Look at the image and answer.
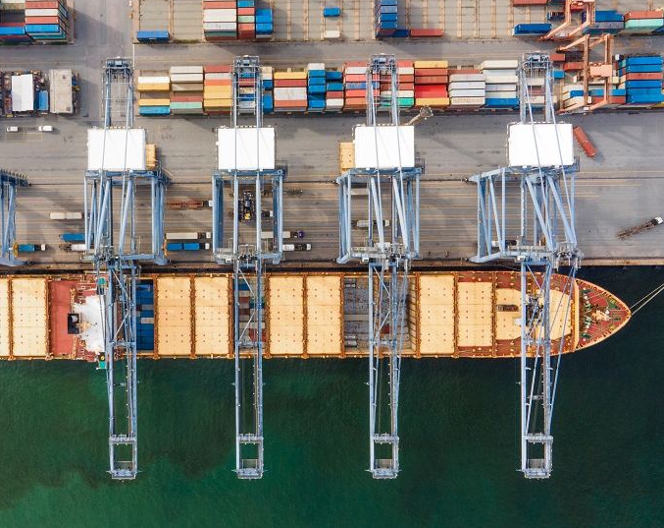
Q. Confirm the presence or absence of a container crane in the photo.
Yes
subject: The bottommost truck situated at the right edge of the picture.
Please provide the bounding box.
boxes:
[618,215,664,240]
